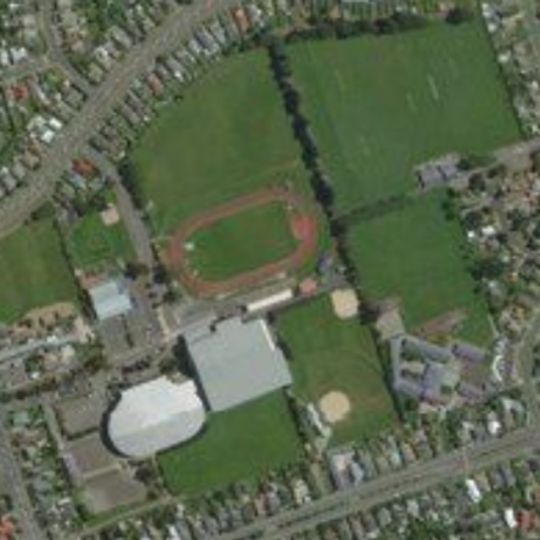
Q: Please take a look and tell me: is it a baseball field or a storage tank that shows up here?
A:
baseball field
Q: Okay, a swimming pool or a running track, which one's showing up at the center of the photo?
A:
running track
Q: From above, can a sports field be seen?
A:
Yes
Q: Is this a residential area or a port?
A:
residential area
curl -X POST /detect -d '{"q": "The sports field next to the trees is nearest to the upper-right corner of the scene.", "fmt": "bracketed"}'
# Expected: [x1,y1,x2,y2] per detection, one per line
[283,14,521,217]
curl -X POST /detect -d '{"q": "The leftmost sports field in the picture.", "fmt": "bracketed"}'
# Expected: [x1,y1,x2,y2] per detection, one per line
[0,204,78,325]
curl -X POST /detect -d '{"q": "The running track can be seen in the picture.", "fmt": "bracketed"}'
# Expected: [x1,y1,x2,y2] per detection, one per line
[168,186,317,299]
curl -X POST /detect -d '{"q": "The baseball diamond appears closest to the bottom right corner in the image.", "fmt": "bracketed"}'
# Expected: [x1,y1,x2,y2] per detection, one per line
[291,352,400,446]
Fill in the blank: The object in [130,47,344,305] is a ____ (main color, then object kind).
green sports field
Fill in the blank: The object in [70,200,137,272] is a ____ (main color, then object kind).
green sports field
